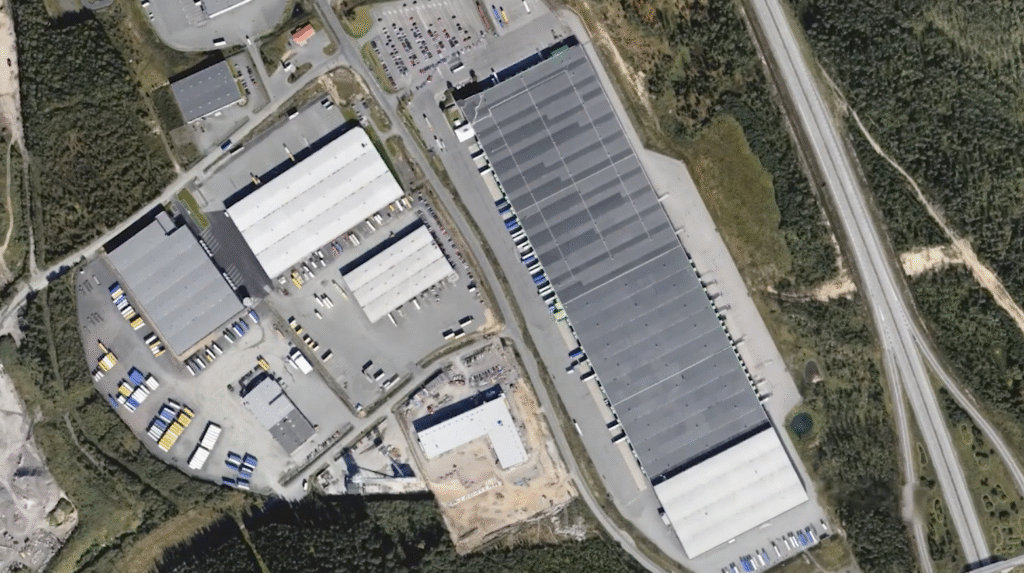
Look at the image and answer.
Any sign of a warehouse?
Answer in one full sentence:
Yes, this view includes a warehouse.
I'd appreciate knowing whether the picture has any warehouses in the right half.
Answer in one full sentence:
Yes, a warehouse shows up in the right half.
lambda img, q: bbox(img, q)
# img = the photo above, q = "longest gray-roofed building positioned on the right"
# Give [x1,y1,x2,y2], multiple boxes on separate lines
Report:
[460,41,771,482]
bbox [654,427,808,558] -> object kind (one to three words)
warehouse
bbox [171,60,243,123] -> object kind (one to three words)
building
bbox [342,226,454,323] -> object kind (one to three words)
building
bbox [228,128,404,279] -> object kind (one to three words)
warehouse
